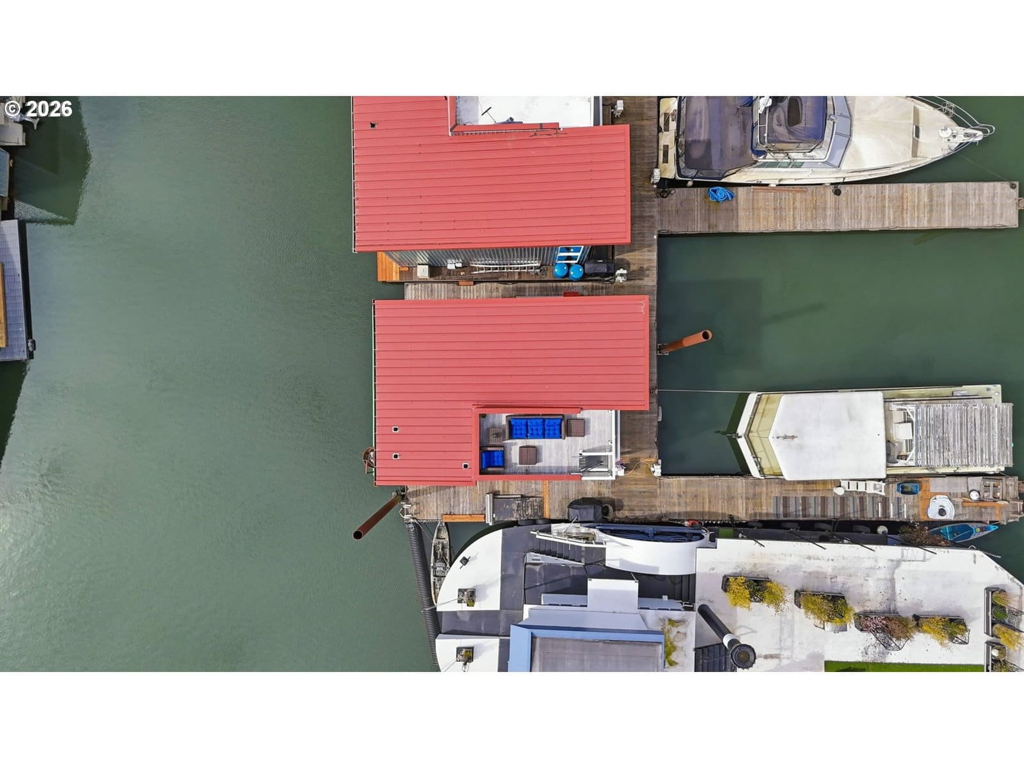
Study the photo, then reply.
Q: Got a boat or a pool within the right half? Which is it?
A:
boat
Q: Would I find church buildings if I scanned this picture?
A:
No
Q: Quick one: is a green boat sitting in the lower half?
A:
No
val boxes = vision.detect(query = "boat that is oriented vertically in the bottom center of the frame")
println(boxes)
[429,522,448,599]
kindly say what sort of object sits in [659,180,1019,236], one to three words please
pier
